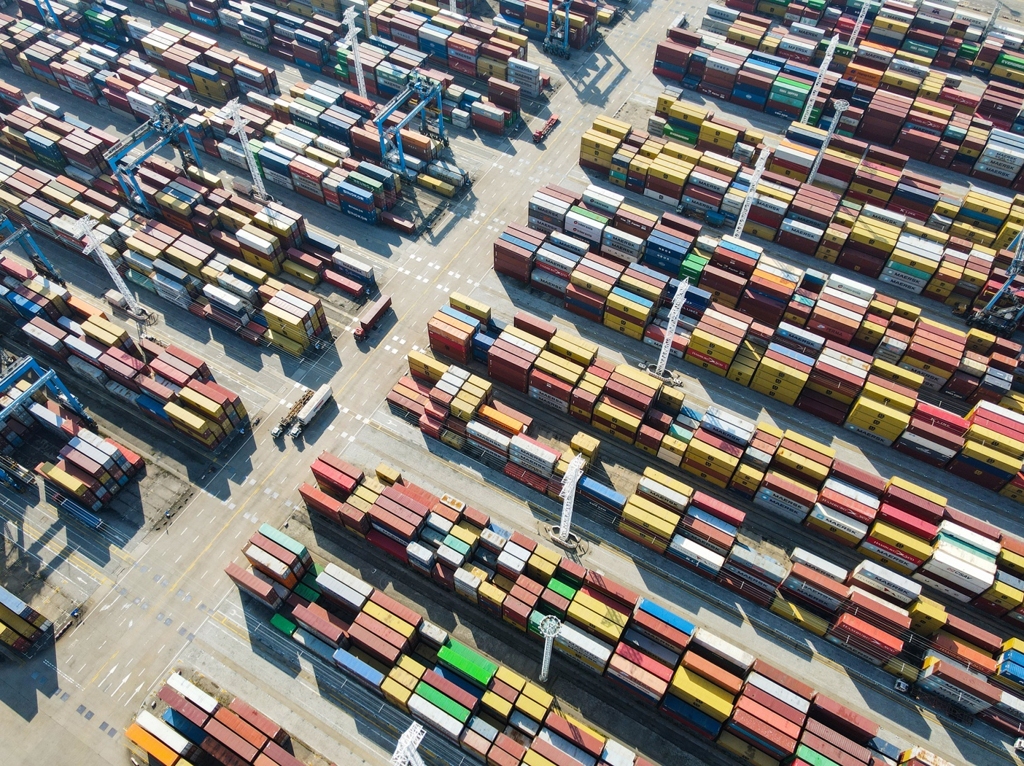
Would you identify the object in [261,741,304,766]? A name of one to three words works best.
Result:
shipping container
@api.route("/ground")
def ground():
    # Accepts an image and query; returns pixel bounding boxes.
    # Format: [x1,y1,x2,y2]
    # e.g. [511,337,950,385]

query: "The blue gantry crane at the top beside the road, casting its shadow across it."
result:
[538,0,573,57]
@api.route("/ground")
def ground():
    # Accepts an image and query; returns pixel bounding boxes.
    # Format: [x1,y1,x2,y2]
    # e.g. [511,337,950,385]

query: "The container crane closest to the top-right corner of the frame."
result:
[967,228,1024,345]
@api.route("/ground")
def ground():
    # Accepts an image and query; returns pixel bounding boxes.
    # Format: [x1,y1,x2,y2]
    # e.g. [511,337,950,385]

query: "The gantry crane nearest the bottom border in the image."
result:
[0,347,98,491]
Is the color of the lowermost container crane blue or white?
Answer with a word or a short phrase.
blue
